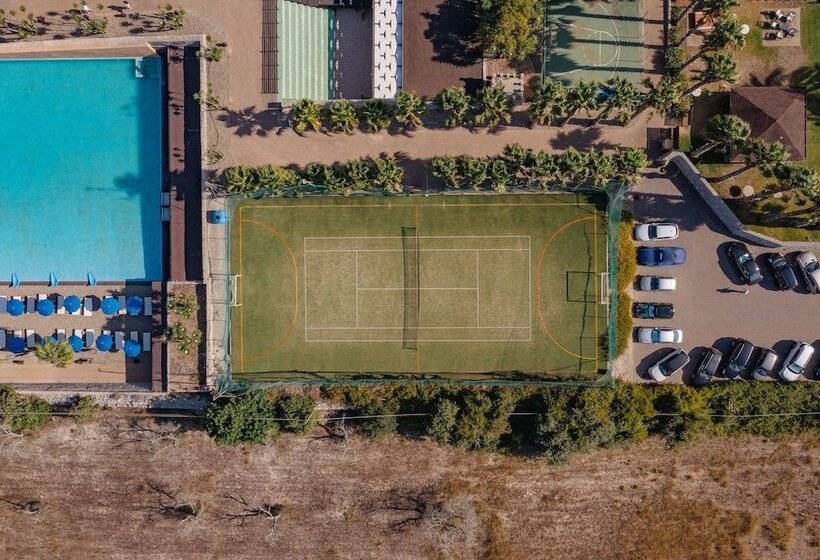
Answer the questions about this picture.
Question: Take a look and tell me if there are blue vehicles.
Yes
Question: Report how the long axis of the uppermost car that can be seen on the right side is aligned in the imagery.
from side to side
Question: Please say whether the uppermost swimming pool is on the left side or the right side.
left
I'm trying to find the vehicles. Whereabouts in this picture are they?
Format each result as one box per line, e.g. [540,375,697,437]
[808,357,820,386]
[791,250,820,294]
[646,347,689,381]
[638,274,676,293]
[633,301,675,321]
[689,344,725,388]
[720,336,755,381]
[762,251,799,293]
[634,220,679,242]
[726,241,762,285]
[637,327,681,347]
[776,340,814,384]
[636,246,685,268]
[748,346,779,381]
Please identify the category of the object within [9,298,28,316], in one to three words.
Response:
umbrella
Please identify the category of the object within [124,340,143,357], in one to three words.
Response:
umbrella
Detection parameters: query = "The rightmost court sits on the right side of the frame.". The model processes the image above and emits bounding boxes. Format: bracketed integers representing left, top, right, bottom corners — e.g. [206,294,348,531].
[547,0,643,102]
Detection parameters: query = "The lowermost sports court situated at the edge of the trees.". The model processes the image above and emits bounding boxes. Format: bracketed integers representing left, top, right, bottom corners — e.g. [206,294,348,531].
[227,192,610,379]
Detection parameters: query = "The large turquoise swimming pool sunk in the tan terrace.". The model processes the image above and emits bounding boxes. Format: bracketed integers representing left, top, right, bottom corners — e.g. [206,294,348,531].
[0,57,162,284]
